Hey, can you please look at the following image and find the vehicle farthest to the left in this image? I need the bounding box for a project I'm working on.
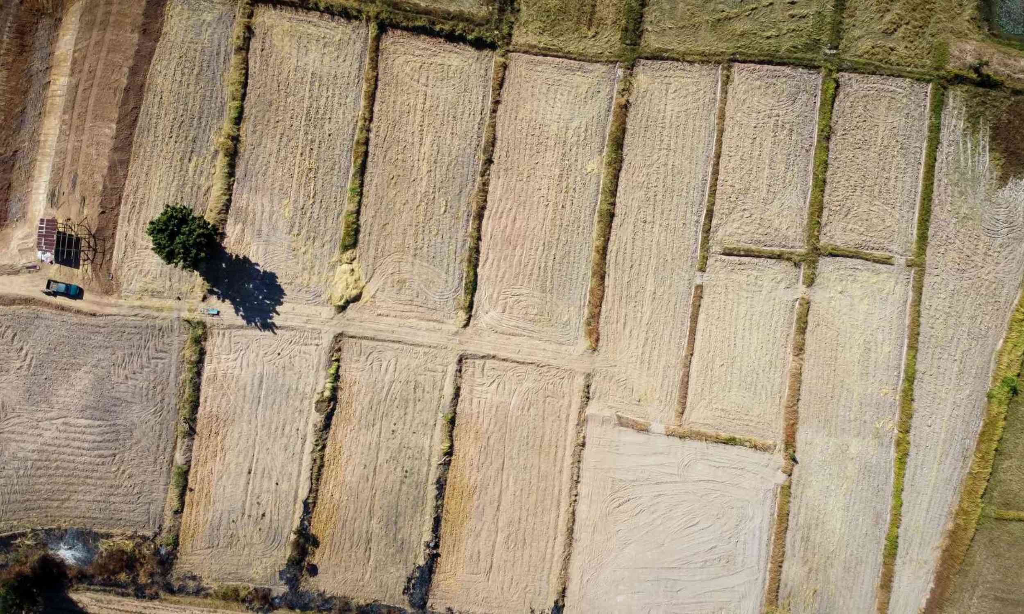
[40,279,81,297]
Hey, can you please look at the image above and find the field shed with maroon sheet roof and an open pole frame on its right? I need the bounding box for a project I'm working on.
[37,219,92,267]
